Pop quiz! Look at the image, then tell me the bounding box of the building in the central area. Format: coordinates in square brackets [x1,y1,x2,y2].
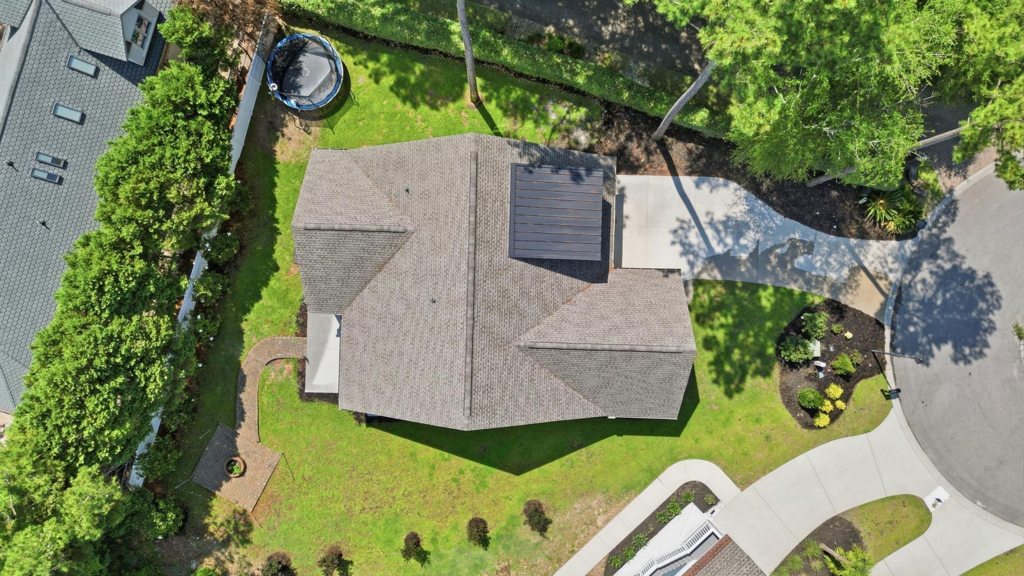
[291,132,696,431]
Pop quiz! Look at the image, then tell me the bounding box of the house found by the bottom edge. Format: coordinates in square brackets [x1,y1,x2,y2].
[613,502,763,576]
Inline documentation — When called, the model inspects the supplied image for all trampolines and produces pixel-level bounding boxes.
[258,25,347,114]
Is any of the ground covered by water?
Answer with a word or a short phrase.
No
